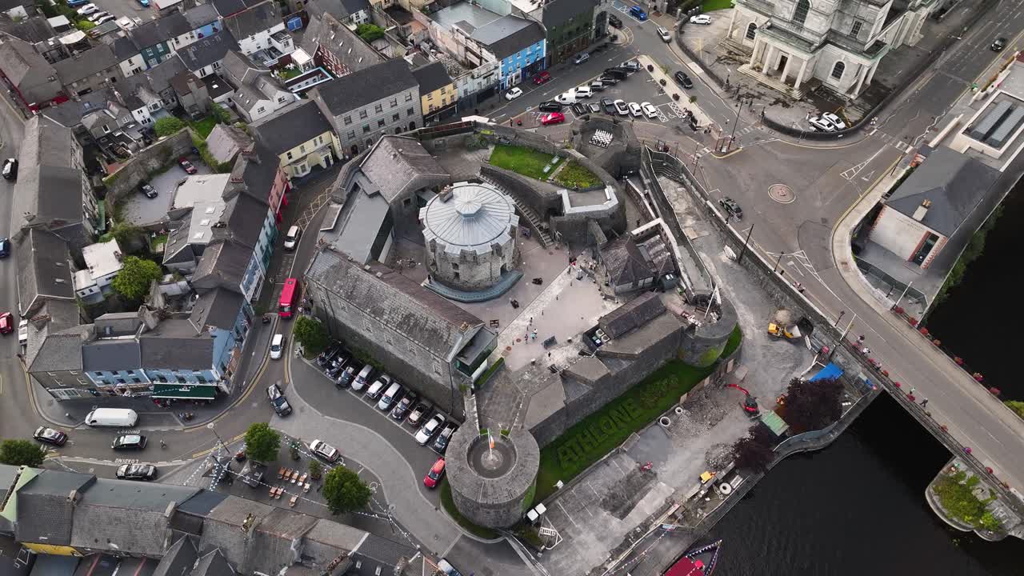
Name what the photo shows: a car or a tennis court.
car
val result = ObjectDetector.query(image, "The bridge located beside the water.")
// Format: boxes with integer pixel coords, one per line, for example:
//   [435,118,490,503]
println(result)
[869,311,1024,556]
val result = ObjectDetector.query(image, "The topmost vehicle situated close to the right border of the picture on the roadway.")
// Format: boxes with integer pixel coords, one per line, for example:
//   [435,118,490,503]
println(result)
[990,37,1009,53]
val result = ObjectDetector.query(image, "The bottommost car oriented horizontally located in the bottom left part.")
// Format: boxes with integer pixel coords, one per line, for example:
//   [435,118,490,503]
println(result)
[115,461,159,481]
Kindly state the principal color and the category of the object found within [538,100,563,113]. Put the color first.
black vehicle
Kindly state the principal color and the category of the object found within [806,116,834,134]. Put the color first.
white car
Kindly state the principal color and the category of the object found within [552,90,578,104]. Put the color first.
white vehicle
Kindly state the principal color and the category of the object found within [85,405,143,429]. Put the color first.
white vehicle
